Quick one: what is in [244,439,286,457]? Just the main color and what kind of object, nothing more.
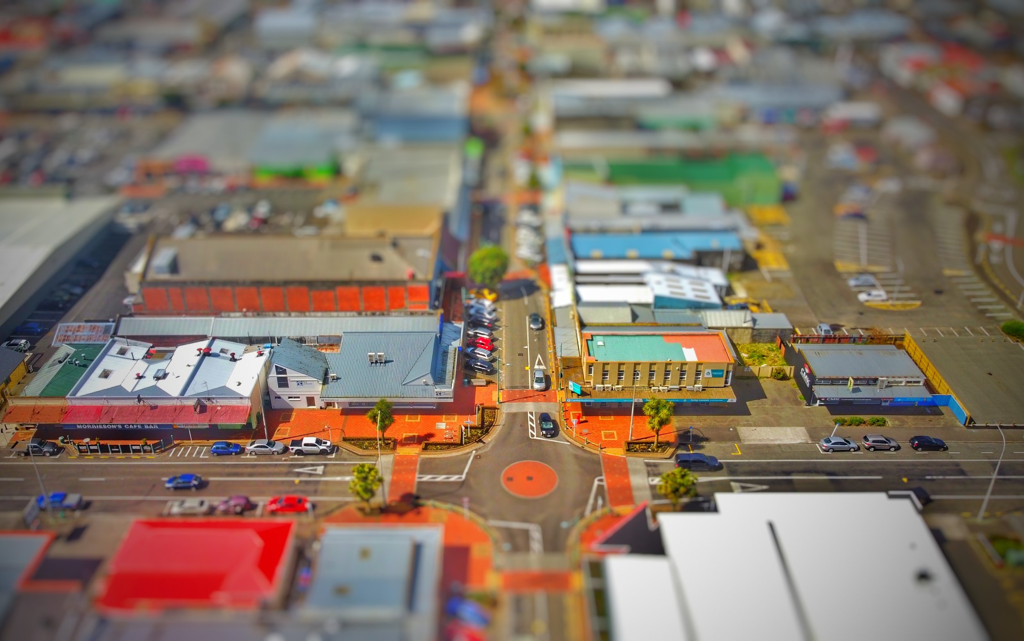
gray car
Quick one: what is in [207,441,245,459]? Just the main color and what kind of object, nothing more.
blue car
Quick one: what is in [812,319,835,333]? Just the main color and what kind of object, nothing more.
gray car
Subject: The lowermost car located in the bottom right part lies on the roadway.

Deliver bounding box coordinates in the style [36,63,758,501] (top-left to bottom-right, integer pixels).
[903,487,945,508]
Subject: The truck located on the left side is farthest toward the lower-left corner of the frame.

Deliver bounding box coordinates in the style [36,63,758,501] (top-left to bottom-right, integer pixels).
[37,490,88,511]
